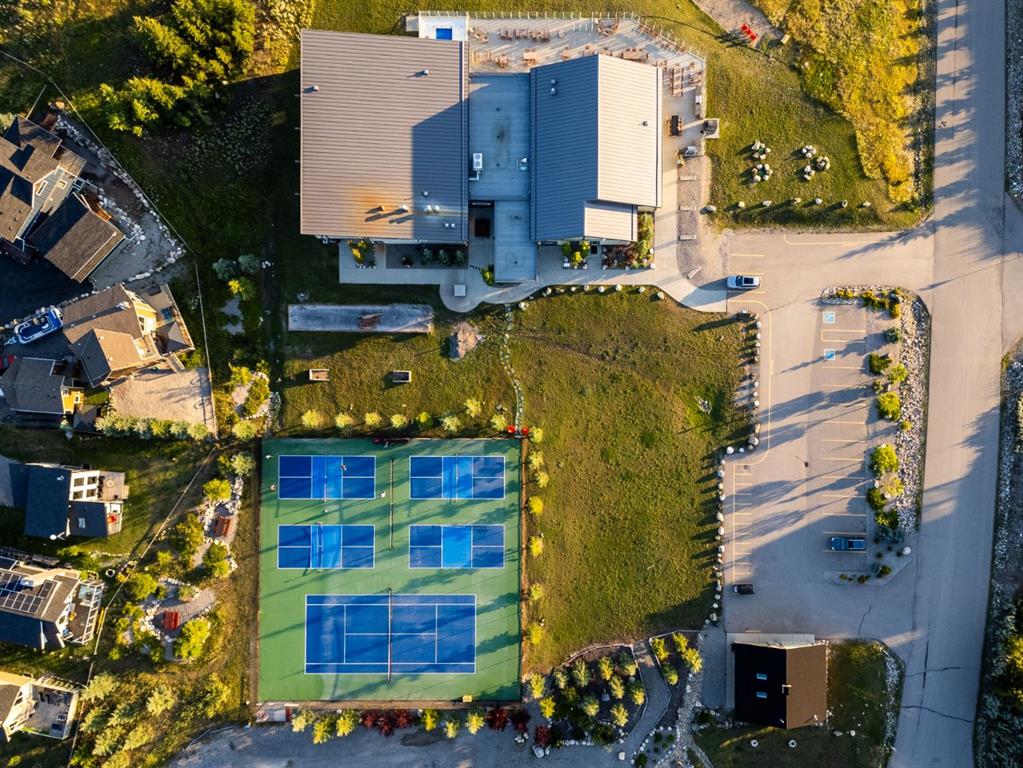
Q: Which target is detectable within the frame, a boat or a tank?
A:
boat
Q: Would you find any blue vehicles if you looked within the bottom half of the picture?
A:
Yes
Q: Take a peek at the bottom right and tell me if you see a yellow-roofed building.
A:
No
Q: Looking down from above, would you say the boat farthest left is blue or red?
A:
blue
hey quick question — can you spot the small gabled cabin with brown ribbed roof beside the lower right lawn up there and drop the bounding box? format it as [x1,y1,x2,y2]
[732,636,827,729]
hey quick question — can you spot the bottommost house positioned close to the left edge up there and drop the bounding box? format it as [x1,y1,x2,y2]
[0,665,92,741]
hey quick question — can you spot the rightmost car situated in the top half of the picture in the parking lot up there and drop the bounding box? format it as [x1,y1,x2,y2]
[726,274,762,291]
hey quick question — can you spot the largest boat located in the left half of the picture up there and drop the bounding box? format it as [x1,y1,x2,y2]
[14,309,63,341]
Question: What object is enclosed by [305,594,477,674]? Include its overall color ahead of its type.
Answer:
blue tennis court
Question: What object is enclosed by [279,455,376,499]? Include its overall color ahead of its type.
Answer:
blue sports court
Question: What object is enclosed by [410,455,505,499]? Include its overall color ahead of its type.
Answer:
blue sports court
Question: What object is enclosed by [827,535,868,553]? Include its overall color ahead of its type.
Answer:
blue vehicle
